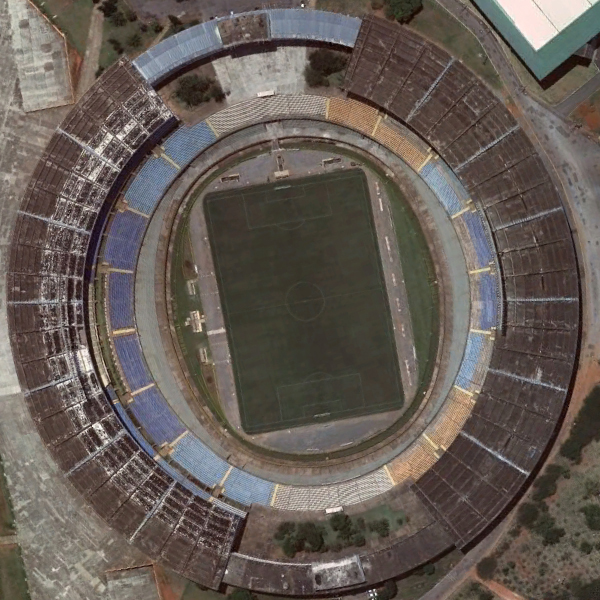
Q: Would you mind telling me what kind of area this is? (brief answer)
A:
sports ground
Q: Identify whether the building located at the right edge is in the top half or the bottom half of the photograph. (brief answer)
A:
top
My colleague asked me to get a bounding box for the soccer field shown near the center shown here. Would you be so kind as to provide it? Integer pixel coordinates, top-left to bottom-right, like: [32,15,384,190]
[206,169,403,432]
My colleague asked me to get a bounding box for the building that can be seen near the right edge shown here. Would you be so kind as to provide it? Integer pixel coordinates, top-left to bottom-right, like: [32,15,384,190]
[473,0,600,80]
